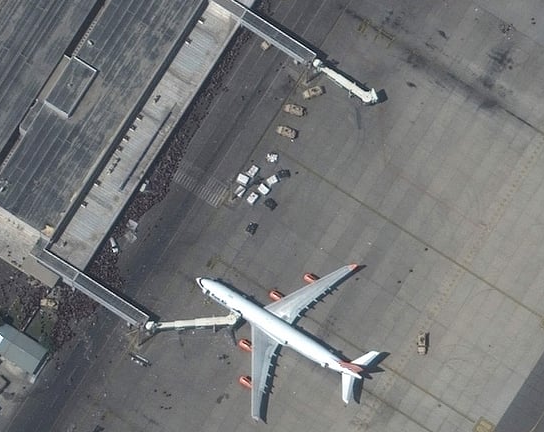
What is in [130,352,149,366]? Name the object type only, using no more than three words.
work vehicle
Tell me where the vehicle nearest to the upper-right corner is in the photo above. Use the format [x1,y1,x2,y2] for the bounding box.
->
[304,86,324,100]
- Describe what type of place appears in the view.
airport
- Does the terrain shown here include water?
No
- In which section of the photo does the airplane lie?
bottom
